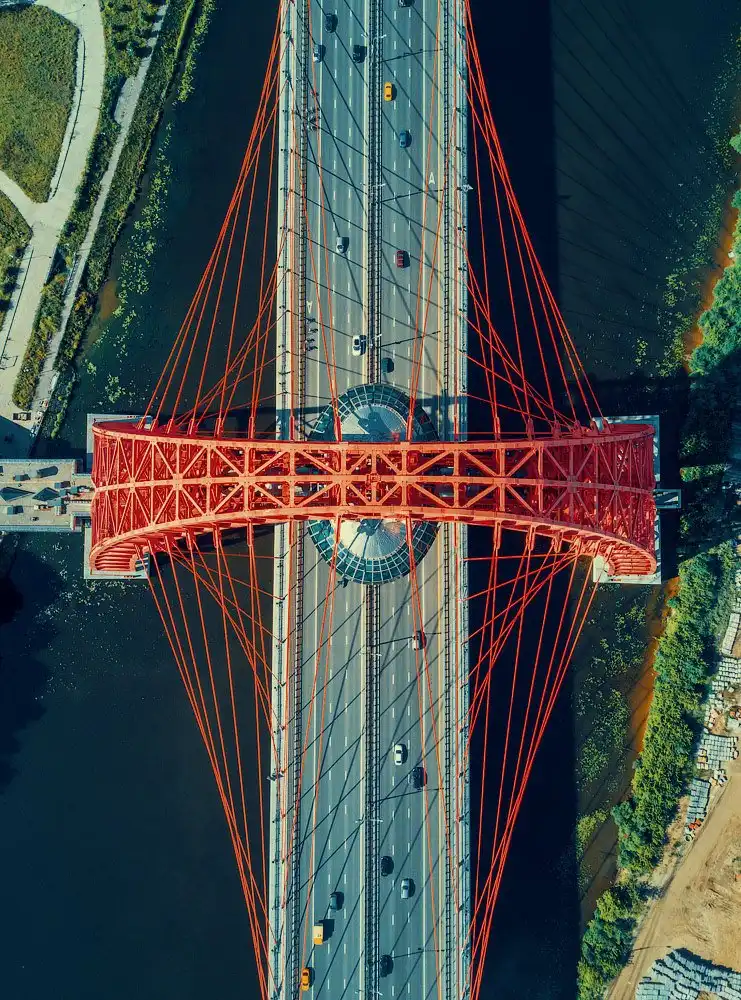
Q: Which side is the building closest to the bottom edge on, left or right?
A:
left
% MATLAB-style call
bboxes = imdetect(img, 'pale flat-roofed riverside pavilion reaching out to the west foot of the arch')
[0,456,92,541]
